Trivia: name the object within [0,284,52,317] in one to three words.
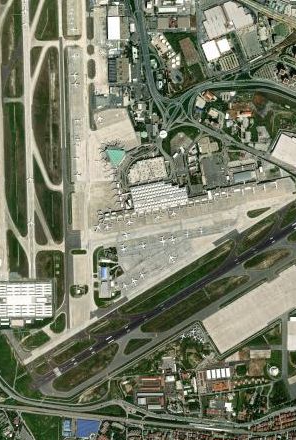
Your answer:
building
